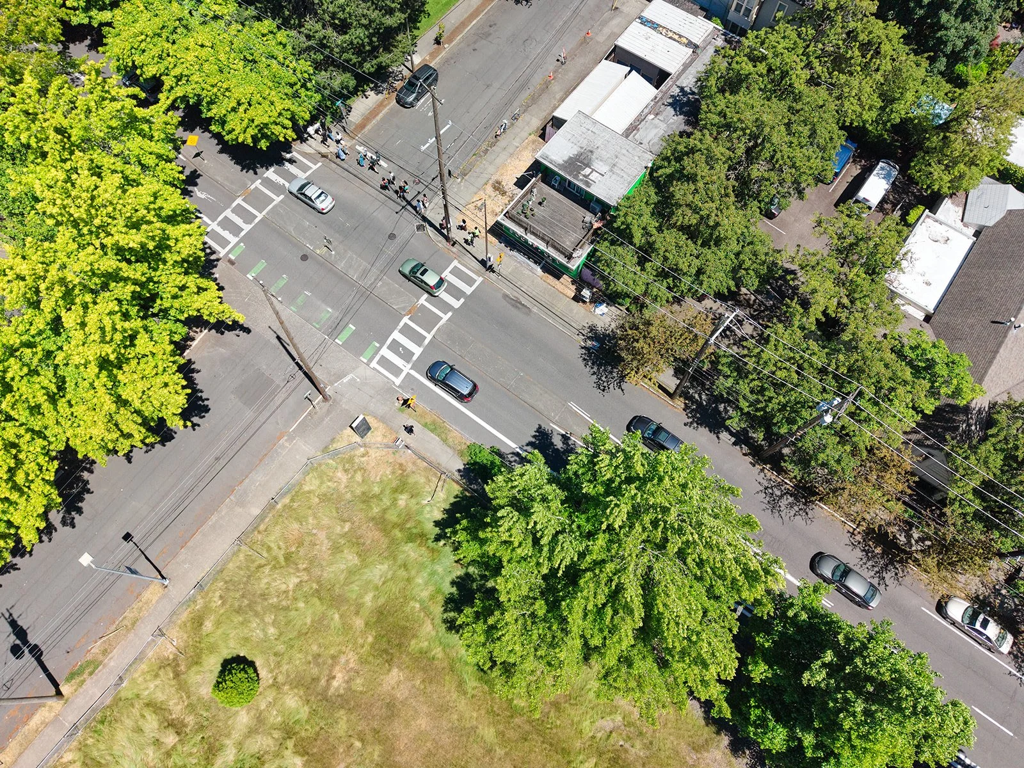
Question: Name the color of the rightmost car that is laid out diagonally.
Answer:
white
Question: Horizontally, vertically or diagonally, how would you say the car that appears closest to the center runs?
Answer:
diagonally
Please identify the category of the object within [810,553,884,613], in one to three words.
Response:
car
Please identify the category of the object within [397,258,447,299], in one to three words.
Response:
car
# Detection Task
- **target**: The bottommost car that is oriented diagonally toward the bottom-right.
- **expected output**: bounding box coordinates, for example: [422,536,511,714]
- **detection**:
[939,597,1018,658]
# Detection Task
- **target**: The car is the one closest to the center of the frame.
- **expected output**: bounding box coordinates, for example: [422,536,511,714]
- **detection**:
[423,358,481,407]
